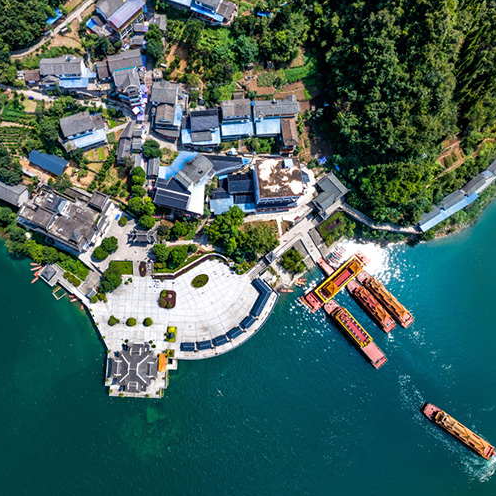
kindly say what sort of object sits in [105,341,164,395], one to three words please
building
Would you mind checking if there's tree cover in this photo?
Yes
